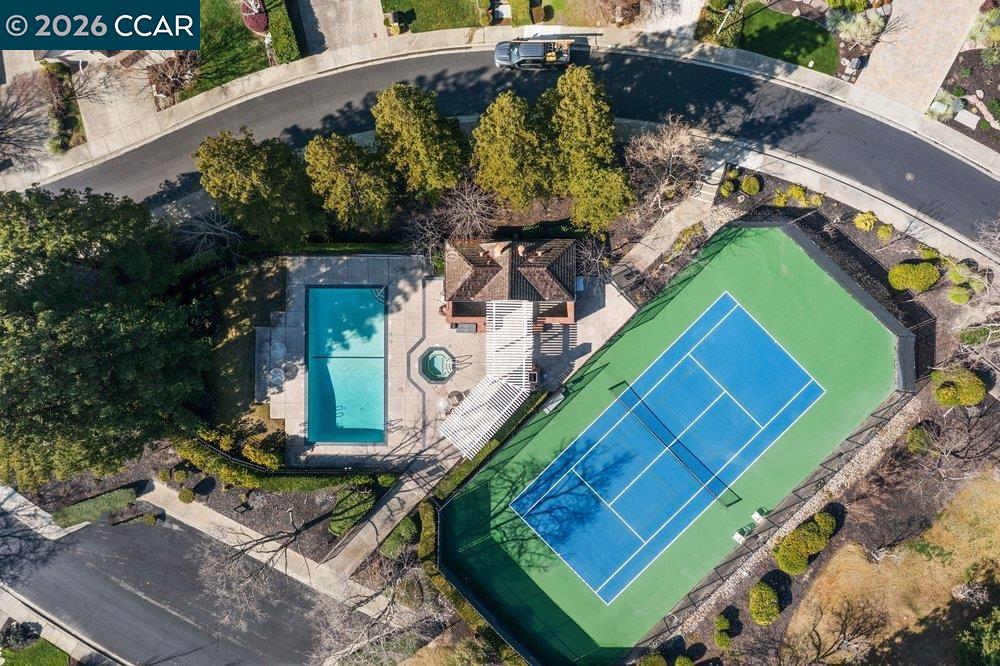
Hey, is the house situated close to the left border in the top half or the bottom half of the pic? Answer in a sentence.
It is in the top half that the house situated close to the left border appears.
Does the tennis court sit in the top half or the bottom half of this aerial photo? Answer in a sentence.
The tennis court is in the bottom half of the image.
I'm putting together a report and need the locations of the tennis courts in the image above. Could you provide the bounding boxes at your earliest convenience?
[440,229,897,666]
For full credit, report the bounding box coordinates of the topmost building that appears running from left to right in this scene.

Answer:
[34,0,175,67]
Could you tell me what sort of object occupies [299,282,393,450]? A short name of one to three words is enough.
swimming pool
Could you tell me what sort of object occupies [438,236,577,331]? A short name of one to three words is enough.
building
